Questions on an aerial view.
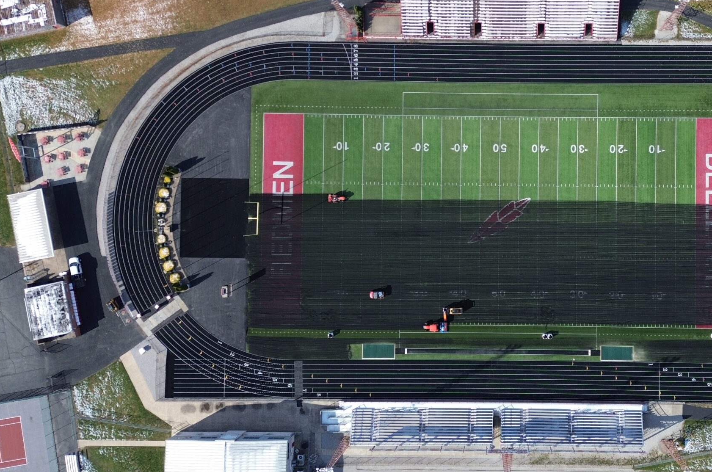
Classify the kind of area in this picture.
sports ground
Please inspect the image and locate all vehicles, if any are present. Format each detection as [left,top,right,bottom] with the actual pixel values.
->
[328,195,345,202]
[70,259,85,286]
[369,292,384,299]
[450,309,464,316]
[103,297,117,311]
[422,322,440,333]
